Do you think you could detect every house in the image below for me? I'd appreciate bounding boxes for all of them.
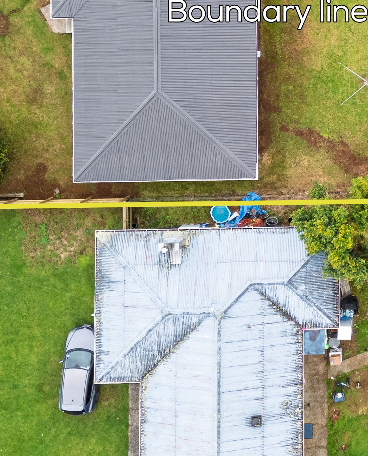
[48,0,264,184]
[89,222,342,456]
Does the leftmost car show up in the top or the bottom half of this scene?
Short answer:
bottom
